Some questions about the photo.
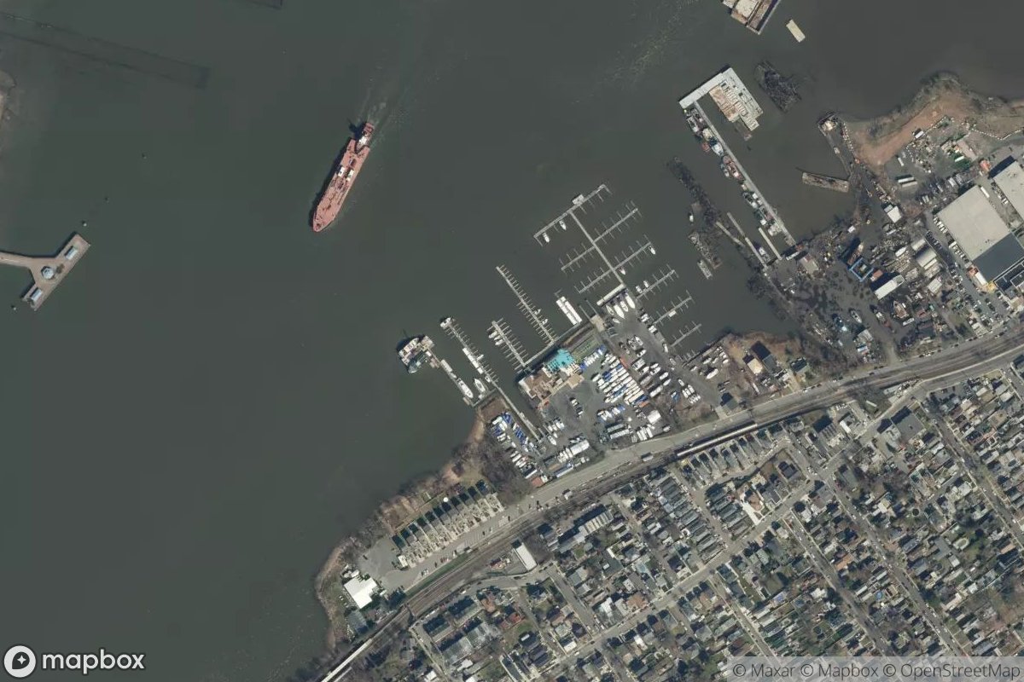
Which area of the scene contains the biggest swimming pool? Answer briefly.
center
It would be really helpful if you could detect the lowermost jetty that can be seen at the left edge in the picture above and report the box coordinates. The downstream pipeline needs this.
[0,233,91,311]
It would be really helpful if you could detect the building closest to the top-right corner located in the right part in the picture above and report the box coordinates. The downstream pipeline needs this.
[994,156,1024,221]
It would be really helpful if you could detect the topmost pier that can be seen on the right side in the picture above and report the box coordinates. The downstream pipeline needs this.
[679,69,730,106]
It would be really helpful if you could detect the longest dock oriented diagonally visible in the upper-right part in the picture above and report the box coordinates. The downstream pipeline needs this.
[693,102,797,246]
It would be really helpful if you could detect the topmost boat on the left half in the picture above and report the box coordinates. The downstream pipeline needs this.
[357,120,376,151]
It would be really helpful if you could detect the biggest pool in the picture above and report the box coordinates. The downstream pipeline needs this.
[546,348,575,371]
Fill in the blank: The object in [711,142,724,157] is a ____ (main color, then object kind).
white boat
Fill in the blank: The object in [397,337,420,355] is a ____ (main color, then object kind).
white boat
